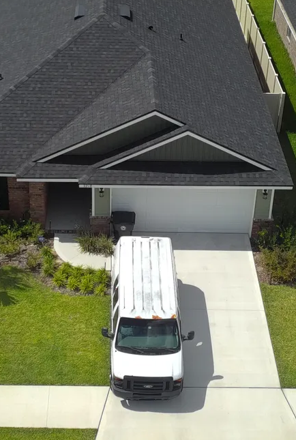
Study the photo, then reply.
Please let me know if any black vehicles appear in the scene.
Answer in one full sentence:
No, the photo shows no black vehicle.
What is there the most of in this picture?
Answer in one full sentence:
Most of the picture is covered by buildings.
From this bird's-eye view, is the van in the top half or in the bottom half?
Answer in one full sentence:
It is in the bottom half that the van appears.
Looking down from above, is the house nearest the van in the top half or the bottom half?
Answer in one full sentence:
Seen from above, the house nearest the van lies in the top half of the view.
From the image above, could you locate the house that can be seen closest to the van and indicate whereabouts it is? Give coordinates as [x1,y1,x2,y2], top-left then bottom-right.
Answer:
[0,0,296,235]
